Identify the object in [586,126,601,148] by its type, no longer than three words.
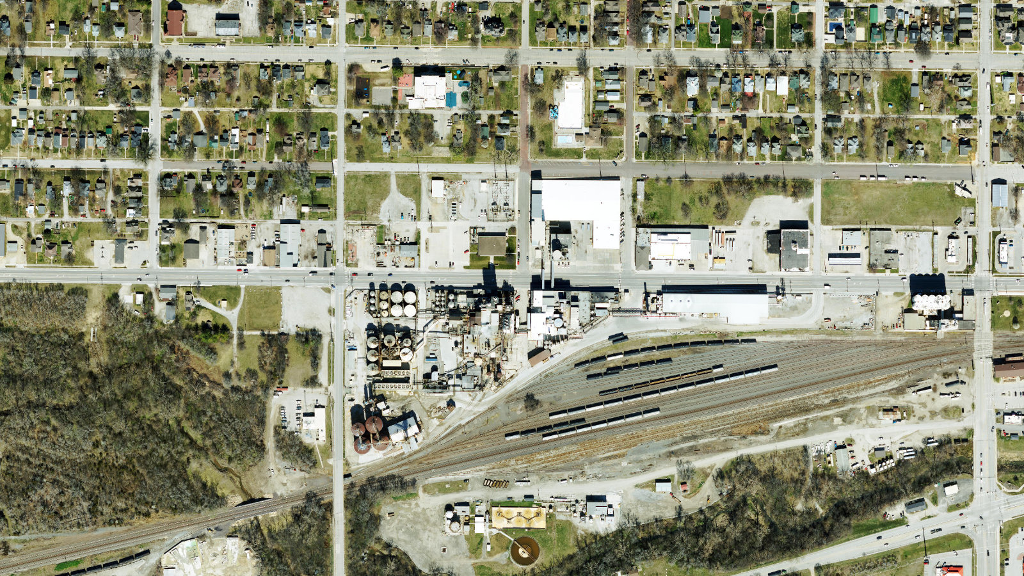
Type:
house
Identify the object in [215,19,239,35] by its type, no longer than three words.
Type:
building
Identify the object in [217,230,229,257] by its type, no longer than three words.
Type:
building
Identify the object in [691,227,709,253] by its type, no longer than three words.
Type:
shed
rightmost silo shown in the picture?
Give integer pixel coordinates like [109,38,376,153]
[913,295,952,315]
